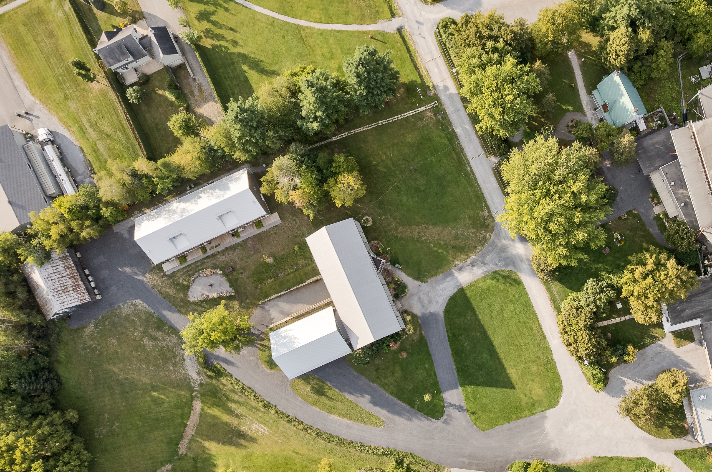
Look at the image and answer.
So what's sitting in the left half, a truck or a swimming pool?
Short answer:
truck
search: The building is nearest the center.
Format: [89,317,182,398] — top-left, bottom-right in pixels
[306,218,404,350]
